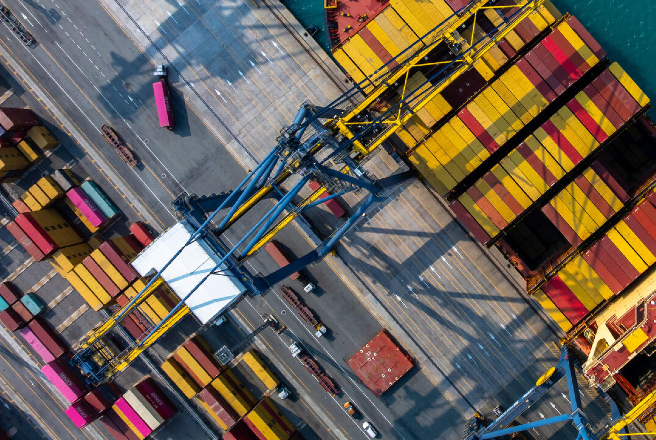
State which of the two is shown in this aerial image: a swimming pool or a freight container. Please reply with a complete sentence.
It is a freight container that can be seen here.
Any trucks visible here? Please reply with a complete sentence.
Yes, there's a truck down there.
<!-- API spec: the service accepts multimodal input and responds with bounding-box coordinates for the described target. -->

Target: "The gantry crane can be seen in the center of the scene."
[72,0,551,389]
